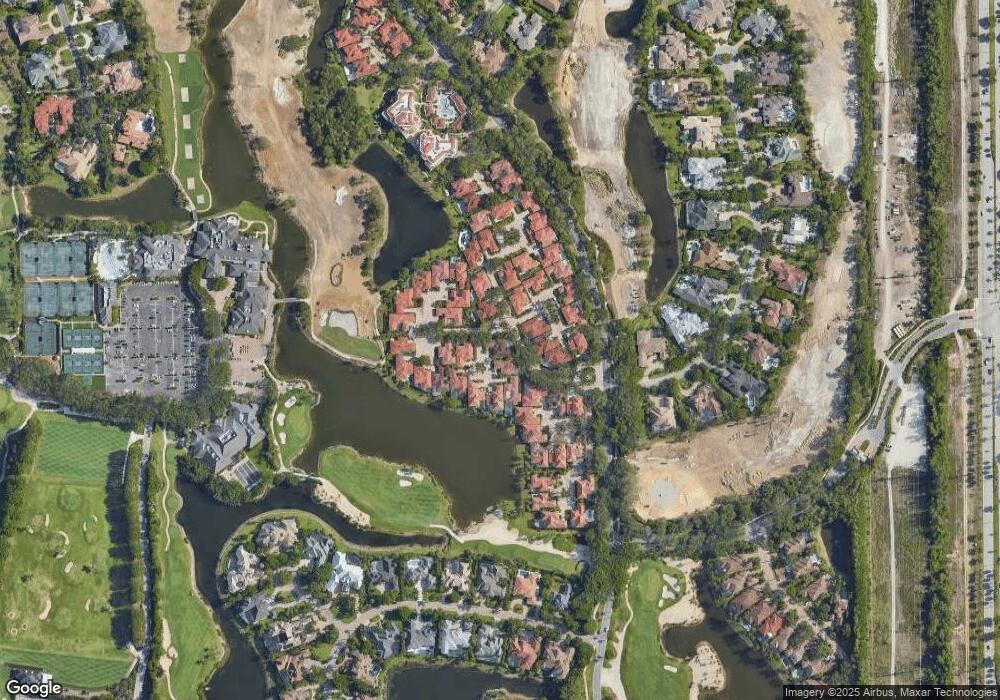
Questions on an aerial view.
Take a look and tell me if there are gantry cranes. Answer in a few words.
No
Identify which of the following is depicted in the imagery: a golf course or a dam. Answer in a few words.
golf course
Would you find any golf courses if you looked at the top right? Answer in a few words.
No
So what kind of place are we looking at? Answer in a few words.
residential area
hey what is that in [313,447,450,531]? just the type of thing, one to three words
golf course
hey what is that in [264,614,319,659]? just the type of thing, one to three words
house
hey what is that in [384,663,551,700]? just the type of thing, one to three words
pond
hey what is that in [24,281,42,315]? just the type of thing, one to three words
tennis court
